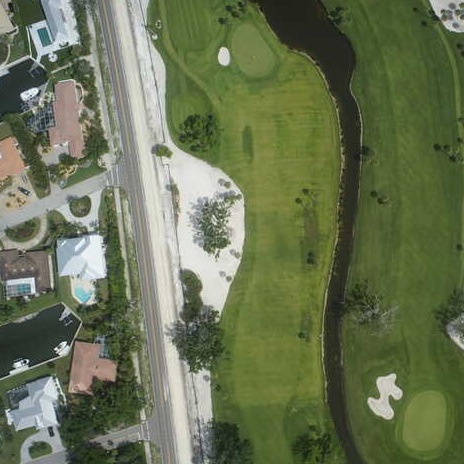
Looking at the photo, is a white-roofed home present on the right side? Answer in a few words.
No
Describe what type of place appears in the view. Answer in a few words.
golf course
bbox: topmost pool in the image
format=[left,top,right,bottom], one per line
[37,27,51,47]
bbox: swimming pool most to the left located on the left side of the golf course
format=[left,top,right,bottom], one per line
[7,278,36,297]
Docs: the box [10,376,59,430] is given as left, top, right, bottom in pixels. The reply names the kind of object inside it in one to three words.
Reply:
house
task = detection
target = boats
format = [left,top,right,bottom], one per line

[18,88,39,100]
[13,359,29,368]
[54,342,69,355]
